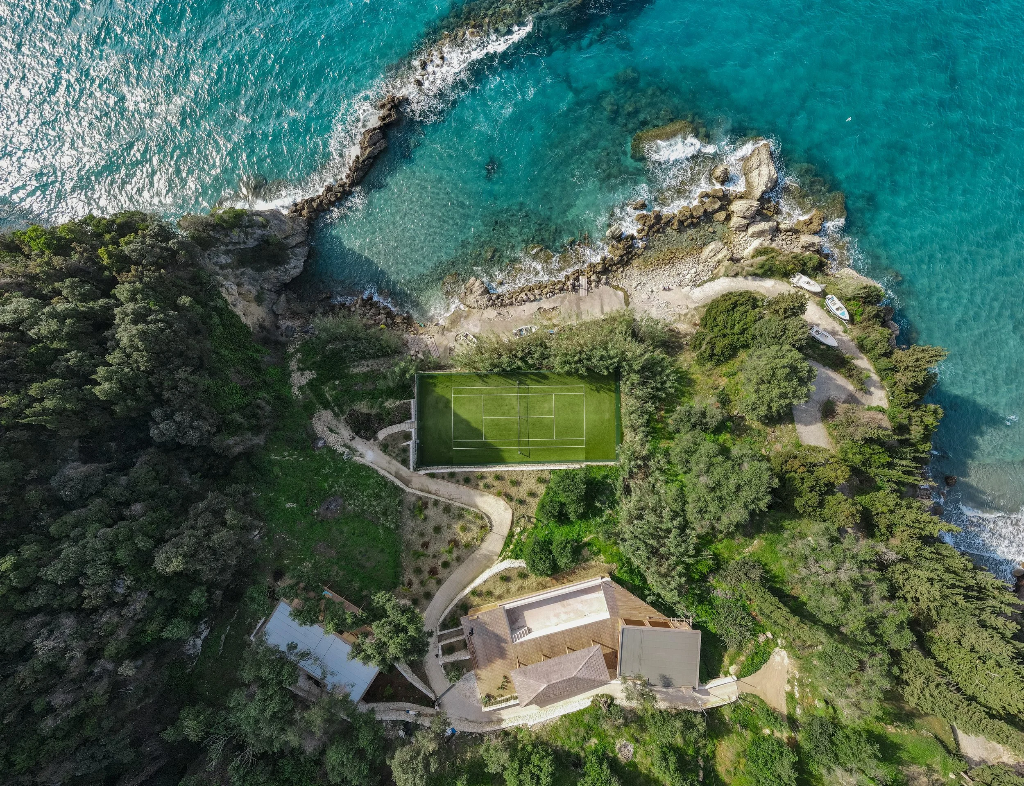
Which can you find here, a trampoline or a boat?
boat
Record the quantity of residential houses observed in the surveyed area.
three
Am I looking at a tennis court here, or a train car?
tennis court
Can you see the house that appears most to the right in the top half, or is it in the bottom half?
bottom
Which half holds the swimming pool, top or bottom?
bottom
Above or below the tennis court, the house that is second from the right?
below it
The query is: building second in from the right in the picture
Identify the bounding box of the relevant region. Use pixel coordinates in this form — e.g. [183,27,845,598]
[510,639,611,708]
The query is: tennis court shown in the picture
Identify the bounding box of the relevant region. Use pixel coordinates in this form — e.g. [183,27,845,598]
[416,370,620,467]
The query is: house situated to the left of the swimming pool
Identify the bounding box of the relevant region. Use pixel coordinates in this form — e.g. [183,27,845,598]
[258,598,381,706]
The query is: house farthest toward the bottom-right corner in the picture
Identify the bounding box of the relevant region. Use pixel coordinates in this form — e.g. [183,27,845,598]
[614,617,701,690]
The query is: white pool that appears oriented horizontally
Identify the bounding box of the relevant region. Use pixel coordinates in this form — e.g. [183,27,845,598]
[501,577,611,644]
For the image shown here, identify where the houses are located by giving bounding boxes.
[614,617,701,690]
[258,598,381,706]
[510,639,611,708]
